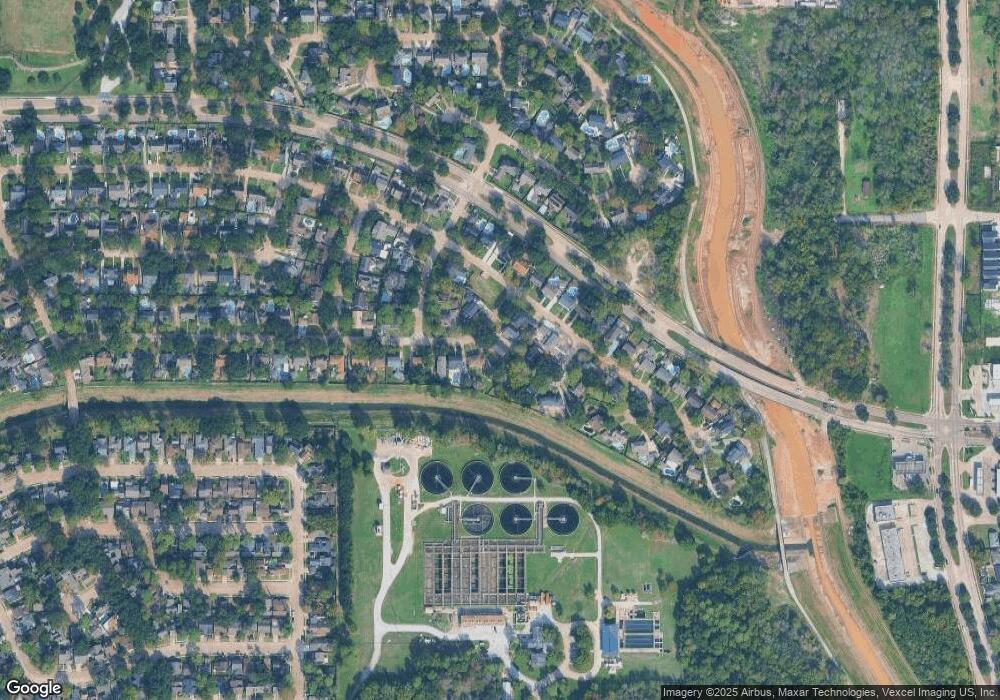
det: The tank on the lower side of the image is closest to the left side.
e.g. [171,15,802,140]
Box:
[421,461,453,493]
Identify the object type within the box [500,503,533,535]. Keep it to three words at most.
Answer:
storage tank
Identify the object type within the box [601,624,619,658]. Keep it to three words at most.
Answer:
shed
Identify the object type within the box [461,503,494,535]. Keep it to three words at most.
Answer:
storage tank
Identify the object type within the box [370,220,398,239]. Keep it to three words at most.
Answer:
house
